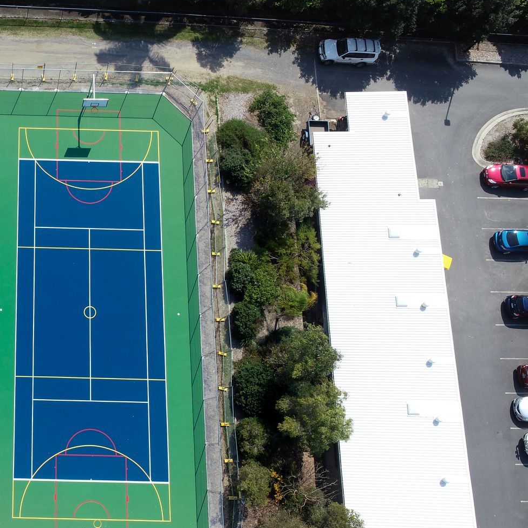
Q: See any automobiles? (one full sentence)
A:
Yes, there is an automobile in the image.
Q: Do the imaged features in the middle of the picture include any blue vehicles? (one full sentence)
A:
No, looking in the middle of the picture, there is no blue vehicle.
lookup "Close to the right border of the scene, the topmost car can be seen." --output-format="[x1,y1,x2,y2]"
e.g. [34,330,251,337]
[482,160,528,189]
